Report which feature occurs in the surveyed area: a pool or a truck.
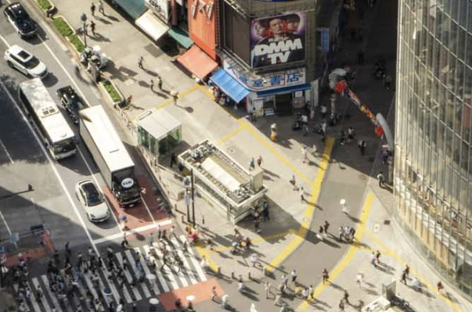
truck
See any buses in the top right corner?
No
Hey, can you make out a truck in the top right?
No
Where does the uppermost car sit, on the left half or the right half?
left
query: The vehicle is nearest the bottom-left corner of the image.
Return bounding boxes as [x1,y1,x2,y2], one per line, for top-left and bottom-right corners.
[73,179,108,220]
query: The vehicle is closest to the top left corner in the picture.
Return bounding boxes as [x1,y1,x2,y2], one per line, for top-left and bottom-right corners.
[1,1,38,37]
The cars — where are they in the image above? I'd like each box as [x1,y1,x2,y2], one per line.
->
[55,84,86,123]
[2,44,45,80]
[1,1,38,37]
[73,179,108,220]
